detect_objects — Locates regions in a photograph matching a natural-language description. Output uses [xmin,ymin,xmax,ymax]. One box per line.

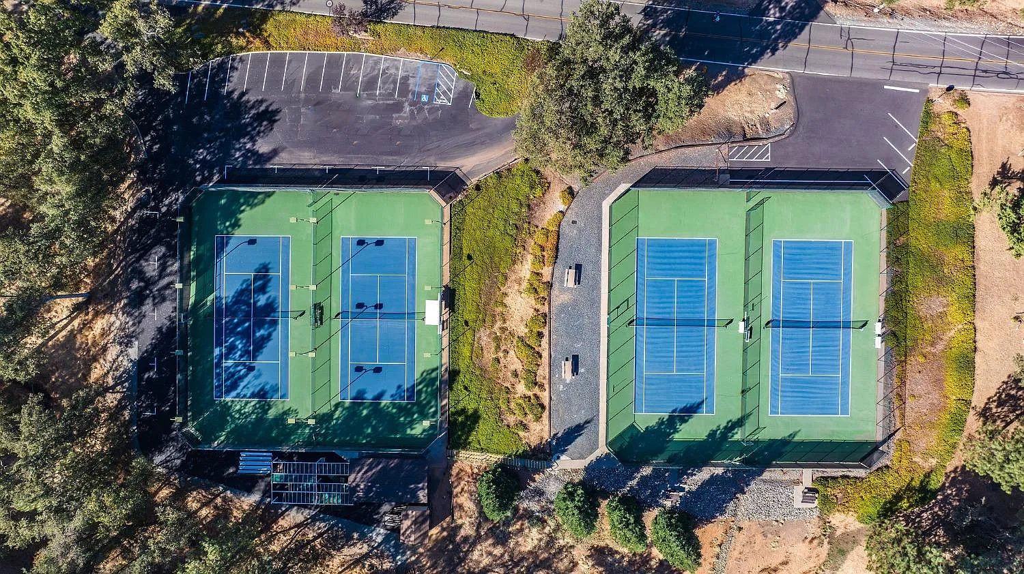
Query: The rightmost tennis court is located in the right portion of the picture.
[742,190,881,461]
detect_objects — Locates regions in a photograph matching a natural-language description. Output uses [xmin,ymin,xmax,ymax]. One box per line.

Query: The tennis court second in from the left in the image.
[316,191,442,444]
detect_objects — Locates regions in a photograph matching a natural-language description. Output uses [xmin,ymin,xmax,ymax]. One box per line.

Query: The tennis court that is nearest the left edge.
[190,191,317,444]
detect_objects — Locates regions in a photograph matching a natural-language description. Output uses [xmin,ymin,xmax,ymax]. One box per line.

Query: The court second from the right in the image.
[606,189,746,460]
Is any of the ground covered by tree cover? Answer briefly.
Yes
